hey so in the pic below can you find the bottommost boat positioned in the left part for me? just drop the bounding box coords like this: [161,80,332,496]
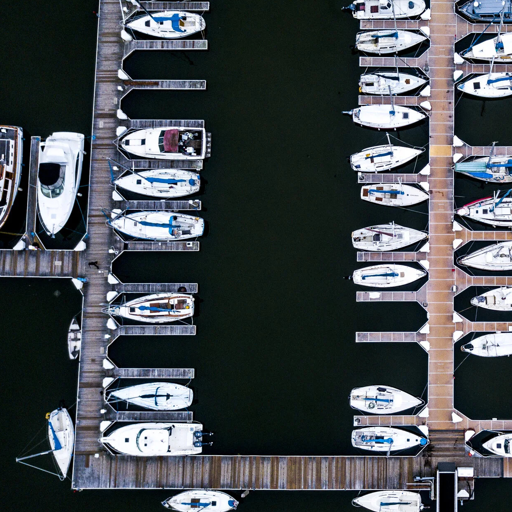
[163,490,240,512]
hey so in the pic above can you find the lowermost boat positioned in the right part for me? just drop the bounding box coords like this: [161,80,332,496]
[350,490,433,512]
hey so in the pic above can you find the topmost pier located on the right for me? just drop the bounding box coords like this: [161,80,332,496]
[353,0,512,437]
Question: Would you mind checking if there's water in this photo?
Yes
